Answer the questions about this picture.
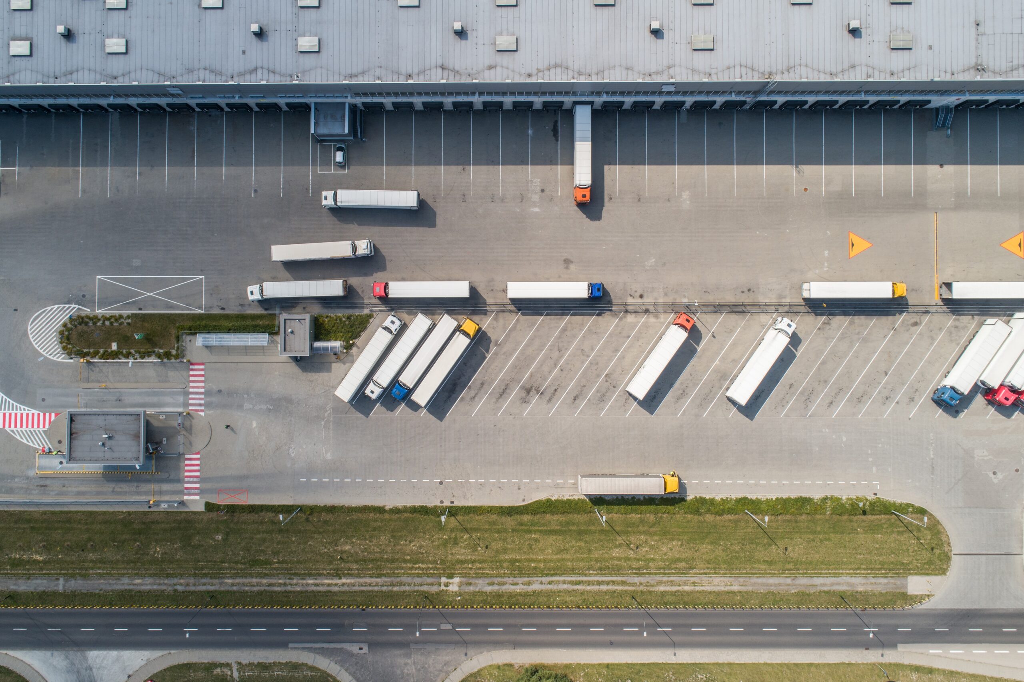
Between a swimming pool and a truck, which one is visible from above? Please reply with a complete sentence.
Visible in the photo is a truck.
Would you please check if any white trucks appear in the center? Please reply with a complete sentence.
Yes, the scene does show a white truck in the center.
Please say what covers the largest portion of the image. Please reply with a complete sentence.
Most of the picture is covered by paved ground.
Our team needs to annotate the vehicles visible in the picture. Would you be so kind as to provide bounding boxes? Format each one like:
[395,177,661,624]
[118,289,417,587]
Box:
[321,189,420,209]
[333,141,346,165]
[984,350,1024,406]
[573,105,592,207]
[932,319,1011,406]
[334,312,405,402]
[935,282,1024,299]
[410,317,481,407]
[626,312,696,400]
[801,281,906,300]
[579,473,679,495]
[726,316,797,406]
[506,281,604,300]
[271,238,378,262]
[372,281,471,300]
[364,312,434,401]
[247,280,348,303]
[389,314,460,401]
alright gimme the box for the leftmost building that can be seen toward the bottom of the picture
[56,410,153,469]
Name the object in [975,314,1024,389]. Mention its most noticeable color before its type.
white trailer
